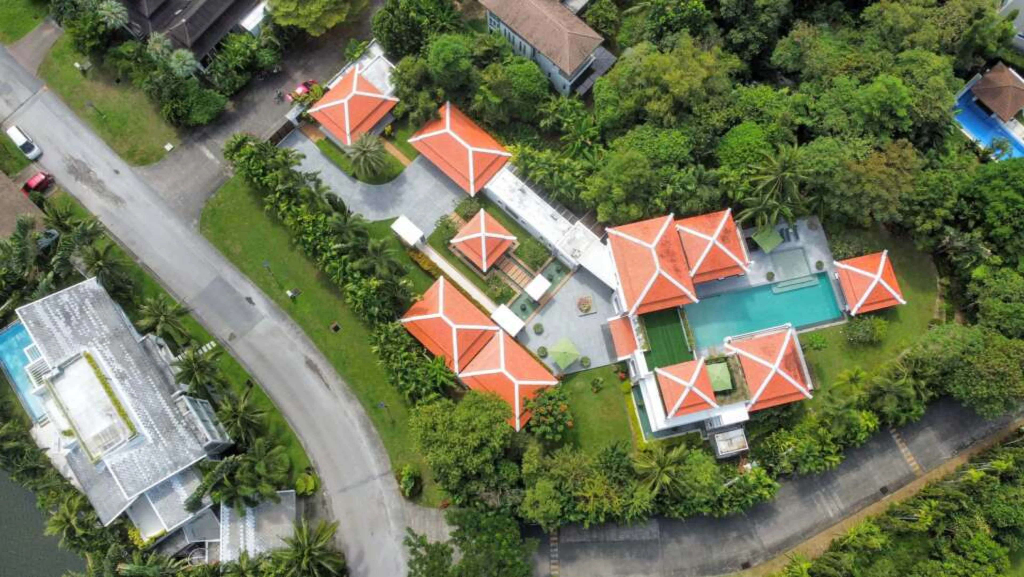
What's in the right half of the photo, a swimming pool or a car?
swimming pool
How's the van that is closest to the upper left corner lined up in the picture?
on a diagonal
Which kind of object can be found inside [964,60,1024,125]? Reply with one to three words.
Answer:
building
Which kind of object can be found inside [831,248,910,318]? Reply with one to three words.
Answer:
building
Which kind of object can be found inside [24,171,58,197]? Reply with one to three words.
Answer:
car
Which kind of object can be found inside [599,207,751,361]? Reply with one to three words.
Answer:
house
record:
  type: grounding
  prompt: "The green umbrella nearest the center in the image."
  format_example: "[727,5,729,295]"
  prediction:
[548,337,579,369]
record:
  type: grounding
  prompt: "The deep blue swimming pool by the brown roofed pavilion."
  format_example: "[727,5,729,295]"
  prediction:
[951,83,1024,165]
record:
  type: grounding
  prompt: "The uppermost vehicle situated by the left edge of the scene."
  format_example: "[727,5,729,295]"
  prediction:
[4,123,45,163]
